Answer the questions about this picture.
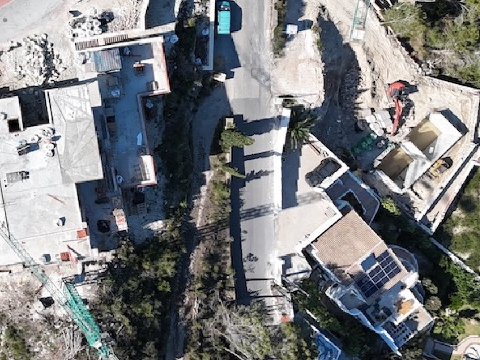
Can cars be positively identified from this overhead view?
Yes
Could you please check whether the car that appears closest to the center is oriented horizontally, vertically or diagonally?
diagonally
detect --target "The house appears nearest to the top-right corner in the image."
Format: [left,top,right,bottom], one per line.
[368,111,463,194]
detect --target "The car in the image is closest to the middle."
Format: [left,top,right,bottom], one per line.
[302,158,338,185]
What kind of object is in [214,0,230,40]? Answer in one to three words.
vehicle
